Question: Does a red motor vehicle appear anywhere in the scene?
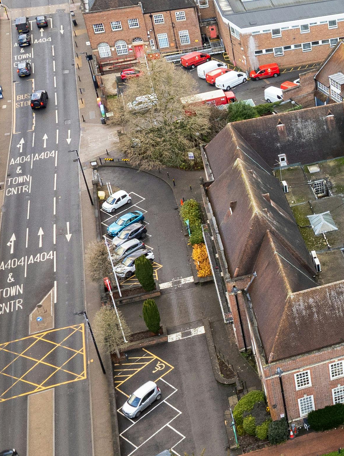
Yes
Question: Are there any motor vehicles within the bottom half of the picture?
Yes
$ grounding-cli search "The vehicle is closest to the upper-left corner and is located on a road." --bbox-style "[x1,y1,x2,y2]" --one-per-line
[15,16,29,32]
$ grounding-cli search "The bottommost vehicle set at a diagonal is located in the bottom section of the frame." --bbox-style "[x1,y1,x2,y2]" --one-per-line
[120,382,166,423]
